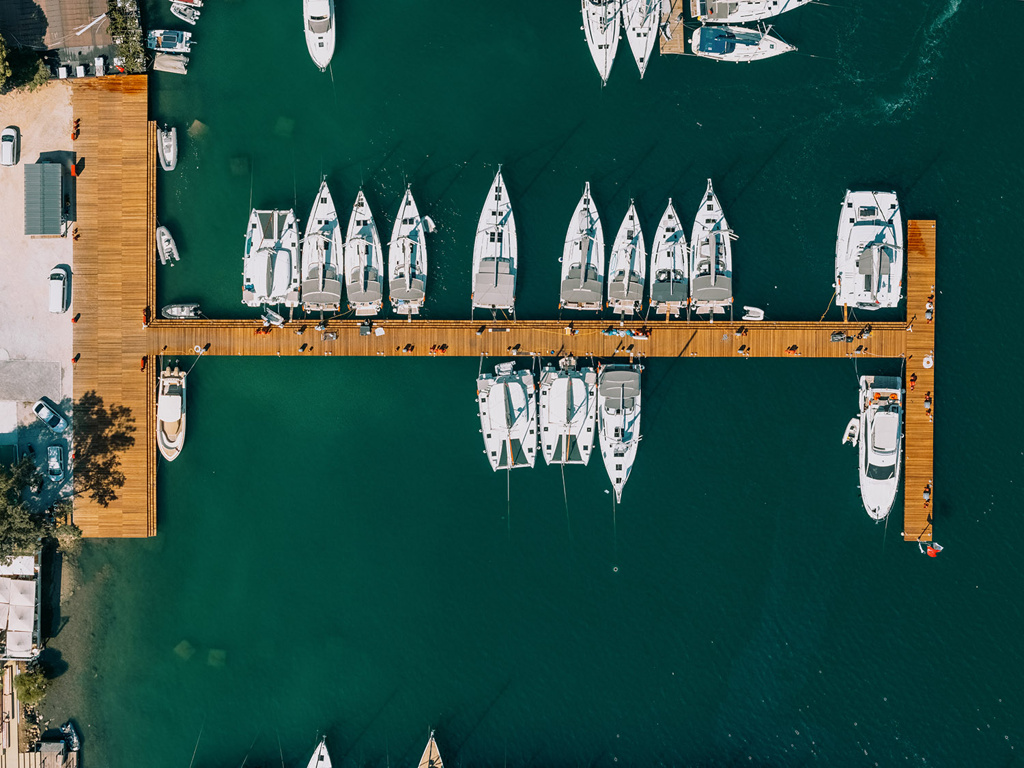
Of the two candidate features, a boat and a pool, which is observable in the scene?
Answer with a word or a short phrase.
boat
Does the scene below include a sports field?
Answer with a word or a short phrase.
No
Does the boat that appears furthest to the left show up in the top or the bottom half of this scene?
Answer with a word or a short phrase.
bottom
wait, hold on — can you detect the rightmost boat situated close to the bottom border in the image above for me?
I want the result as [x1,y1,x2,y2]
[420,728,444,768]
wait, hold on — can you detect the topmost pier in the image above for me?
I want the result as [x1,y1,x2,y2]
[660,0,683,53]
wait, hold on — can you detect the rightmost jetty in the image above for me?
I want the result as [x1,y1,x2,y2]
[904,220,937,542]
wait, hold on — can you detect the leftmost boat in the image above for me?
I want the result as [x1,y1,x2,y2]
[60,719,81,750]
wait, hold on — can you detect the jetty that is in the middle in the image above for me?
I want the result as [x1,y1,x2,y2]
[148,320,905,358]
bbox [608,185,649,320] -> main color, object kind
white boat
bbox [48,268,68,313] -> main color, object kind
white vehicle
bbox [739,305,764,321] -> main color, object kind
white boat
